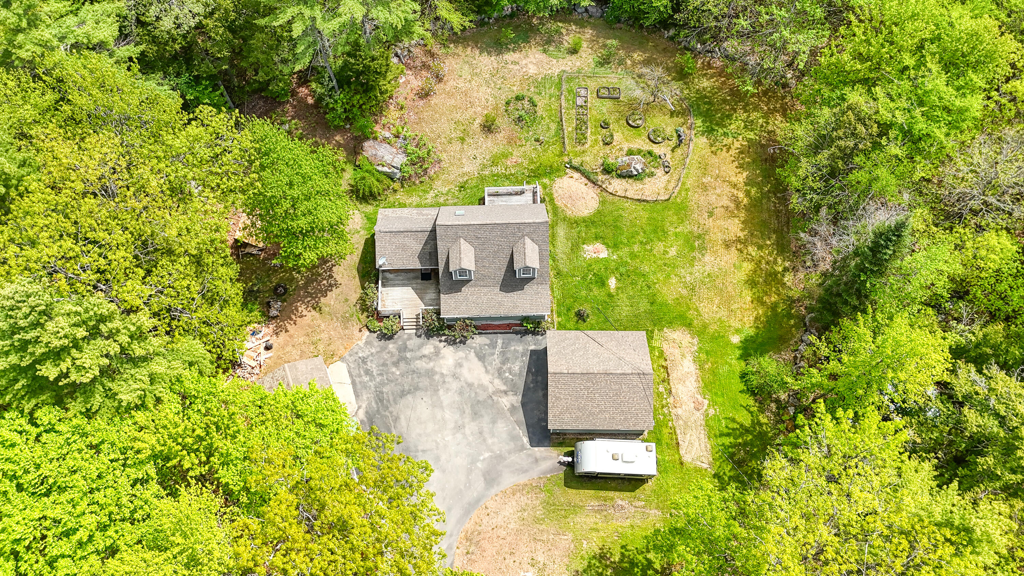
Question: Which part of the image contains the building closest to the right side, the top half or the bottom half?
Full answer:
You can find the building closest to the right side in the bottom half.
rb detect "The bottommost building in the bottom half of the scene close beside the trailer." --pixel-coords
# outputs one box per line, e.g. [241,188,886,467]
[546,330,654,434]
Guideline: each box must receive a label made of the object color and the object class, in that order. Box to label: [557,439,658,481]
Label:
white trailer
